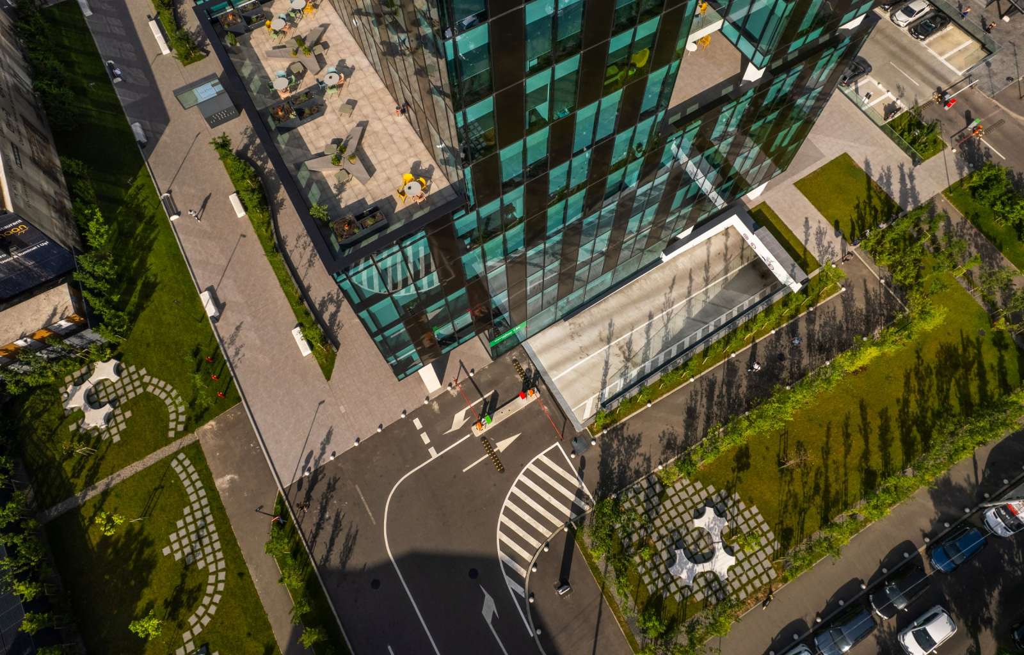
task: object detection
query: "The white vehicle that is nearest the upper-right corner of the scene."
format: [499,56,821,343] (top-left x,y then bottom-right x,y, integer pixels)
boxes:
[893,1,929,27]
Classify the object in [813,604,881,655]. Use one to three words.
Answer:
car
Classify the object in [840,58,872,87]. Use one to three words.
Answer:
car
